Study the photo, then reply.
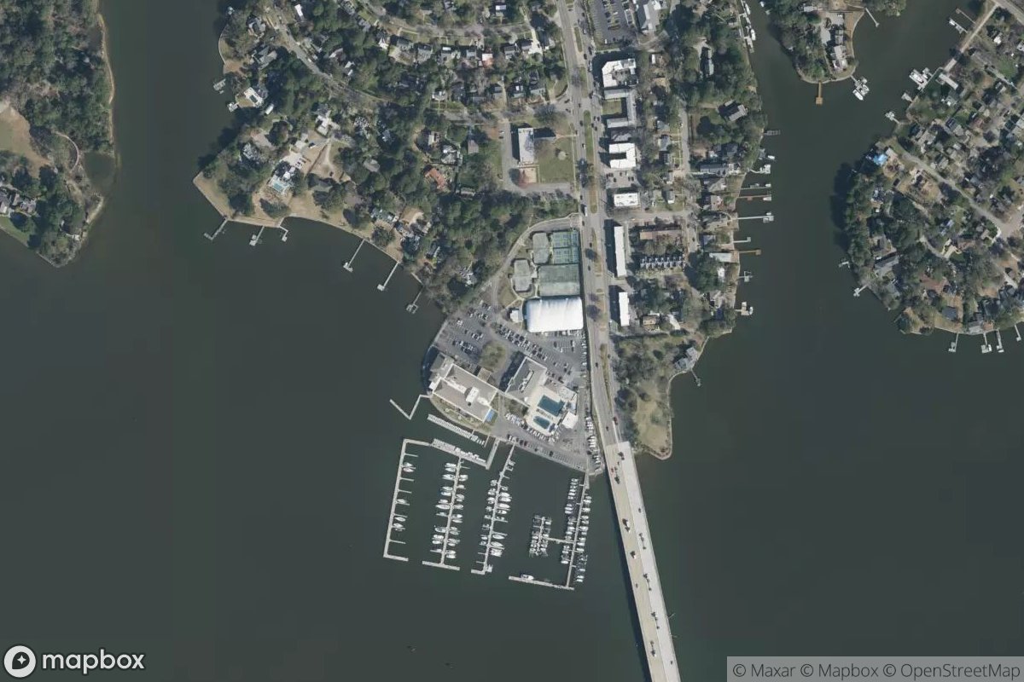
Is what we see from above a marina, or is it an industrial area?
marina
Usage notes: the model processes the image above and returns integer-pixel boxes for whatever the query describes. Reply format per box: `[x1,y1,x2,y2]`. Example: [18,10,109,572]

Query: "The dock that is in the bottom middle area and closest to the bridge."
[567,471,589,588]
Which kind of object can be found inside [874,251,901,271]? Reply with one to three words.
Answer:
house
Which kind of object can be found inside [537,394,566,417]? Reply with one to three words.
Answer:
swimming pool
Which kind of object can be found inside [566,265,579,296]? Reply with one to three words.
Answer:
tennis court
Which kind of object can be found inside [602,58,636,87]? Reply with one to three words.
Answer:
building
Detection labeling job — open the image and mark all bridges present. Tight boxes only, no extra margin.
[605,444,679,682]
